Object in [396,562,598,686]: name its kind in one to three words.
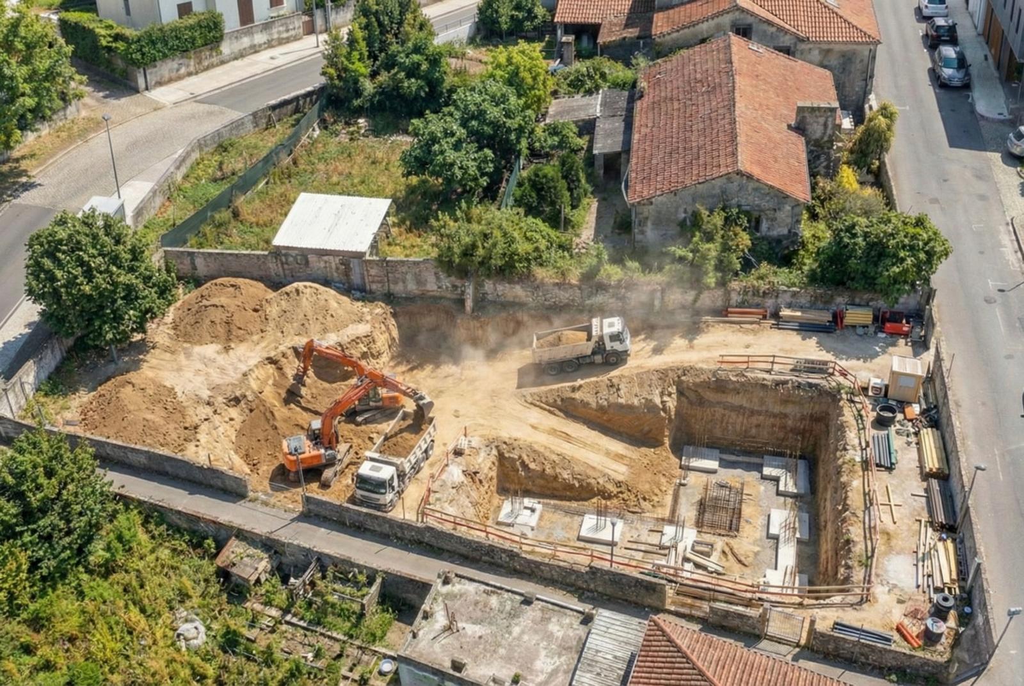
shed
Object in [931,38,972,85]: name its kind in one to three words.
car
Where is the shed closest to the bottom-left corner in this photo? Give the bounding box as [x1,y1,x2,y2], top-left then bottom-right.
[217,540,270,597]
